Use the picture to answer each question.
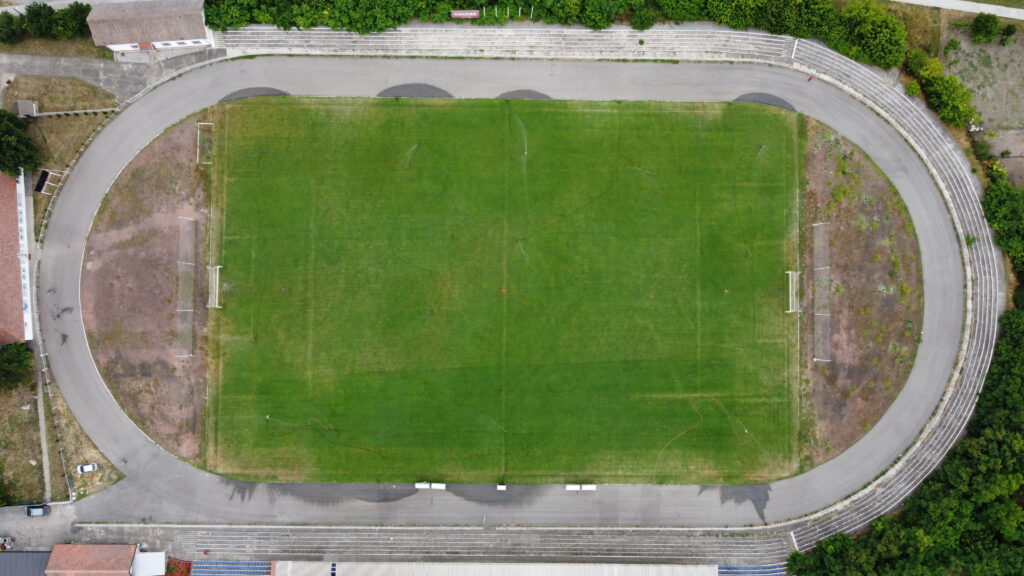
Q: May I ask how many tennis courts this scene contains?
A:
0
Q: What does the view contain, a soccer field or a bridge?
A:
soccer field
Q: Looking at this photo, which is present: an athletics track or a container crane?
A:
athletics track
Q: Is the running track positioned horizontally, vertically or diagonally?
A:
horizontally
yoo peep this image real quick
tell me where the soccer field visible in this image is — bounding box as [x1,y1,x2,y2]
[205,95,809,485]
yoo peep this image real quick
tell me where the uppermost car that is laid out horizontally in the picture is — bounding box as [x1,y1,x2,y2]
[77,462,99,474]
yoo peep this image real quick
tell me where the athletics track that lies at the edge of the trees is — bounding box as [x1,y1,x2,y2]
[39,58,964,526]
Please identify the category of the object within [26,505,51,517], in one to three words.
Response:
vehicle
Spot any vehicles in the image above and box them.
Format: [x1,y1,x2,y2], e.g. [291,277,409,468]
[0,538,15,550]
[77,462,99,474]
[26,505,51,517]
